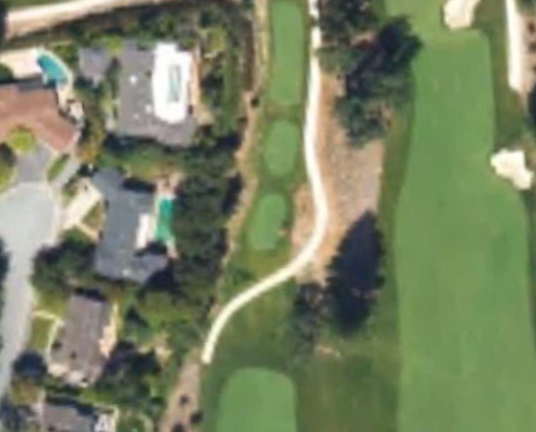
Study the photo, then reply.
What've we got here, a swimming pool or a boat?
swimming pool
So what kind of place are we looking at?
golf course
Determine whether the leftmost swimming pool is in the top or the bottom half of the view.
top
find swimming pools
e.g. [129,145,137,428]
[154,197,177,241]
[36,54,70,85]
[167,64,182,101]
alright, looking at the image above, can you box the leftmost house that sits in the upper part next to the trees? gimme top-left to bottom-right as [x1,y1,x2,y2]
[0,80,77,154]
